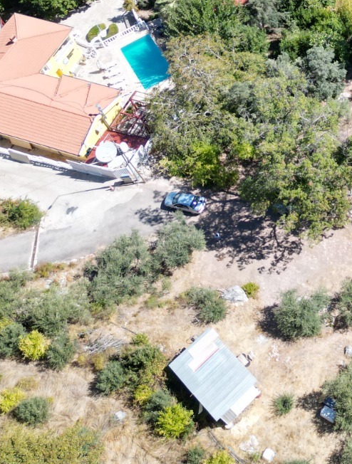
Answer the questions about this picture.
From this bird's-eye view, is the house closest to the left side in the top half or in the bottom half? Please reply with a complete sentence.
You can find the house closest to the left side in the top half.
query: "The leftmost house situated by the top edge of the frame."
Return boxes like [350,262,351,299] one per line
[0,14,121,160]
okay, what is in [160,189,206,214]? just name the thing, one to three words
car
